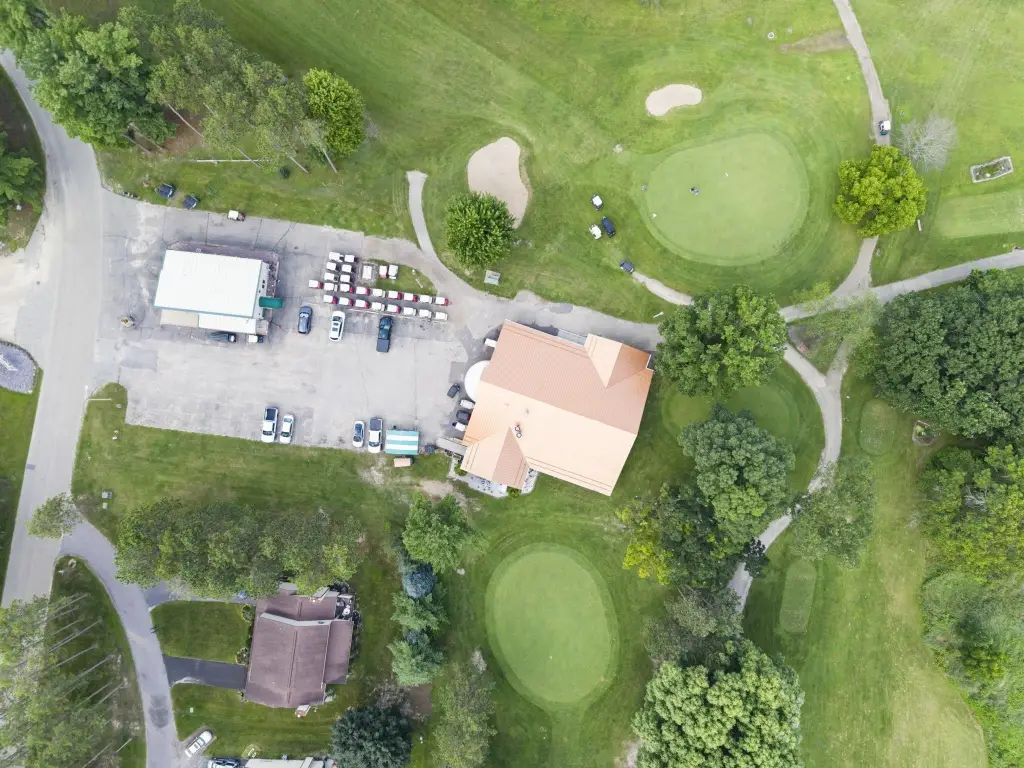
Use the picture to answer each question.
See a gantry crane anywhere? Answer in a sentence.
No, the picture doesn't show any gantry crane.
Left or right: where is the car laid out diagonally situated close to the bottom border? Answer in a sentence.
The car laid out diagonally situated close to the bottom border is on the left side of the image.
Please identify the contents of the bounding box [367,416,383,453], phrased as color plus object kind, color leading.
white vehicle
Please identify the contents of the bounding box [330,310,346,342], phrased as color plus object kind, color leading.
white car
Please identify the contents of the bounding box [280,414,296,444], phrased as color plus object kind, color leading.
white car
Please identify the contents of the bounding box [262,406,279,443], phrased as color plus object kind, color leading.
white vehicle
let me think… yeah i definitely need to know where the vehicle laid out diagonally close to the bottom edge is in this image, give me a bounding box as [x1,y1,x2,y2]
[186,728,214,758]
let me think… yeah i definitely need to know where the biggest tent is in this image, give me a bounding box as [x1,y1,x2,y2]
[386,430,420,456]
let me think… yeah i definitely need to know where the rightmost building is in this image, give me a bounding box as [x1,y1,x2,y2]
[435,320,653,495]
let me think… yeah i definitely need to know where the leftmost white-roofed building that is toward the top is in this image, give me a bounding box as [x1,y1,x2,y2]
[153,250,286,336]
